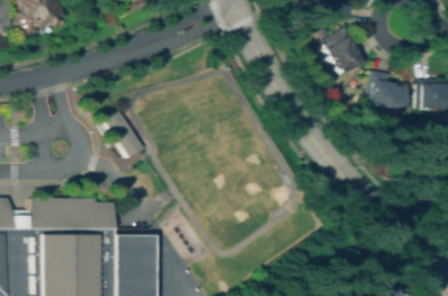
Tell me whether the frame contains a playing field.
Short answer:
Yes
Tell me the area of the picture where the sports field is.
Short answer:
center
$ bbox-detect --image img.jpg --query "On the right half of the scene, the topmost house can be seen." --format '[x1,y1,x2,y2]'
[318,26,366,74]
